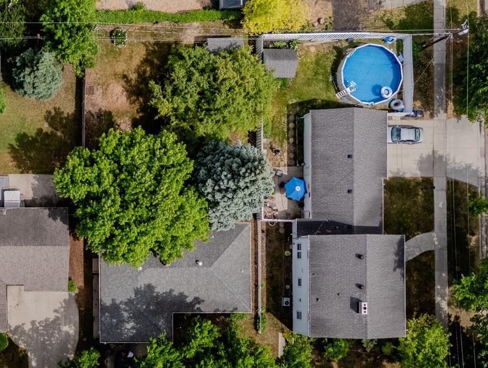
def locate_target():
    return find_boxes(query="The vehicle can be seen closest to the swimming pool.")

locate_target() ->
[388,122,428,145]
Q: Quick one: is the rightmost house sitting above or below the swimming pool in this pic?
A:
below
